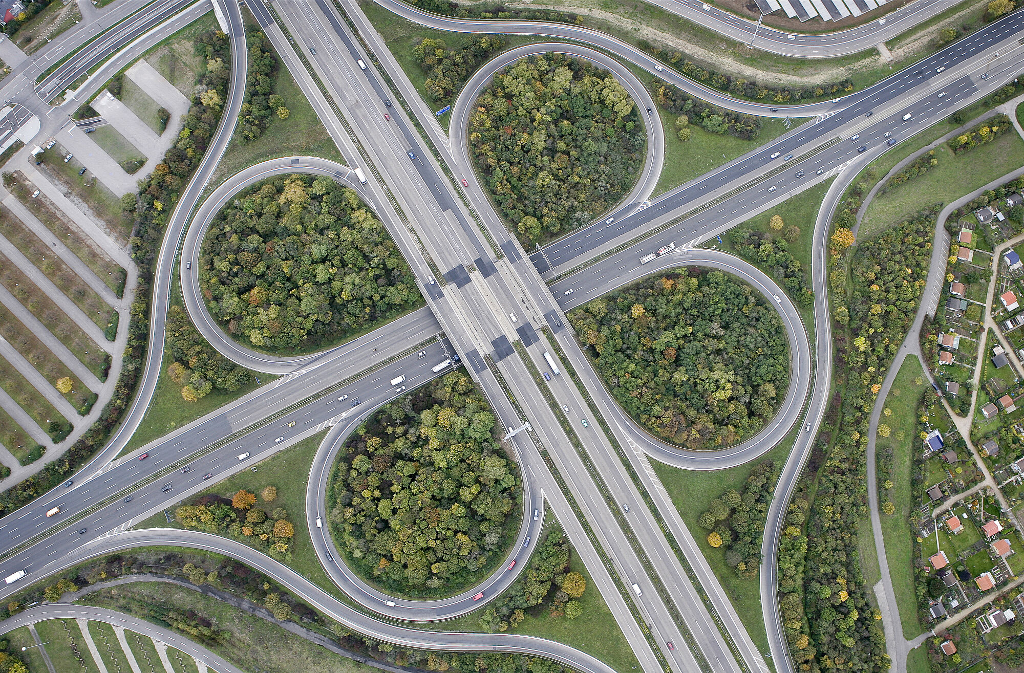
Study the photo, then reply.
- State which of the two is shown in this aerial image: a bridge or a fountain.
bridge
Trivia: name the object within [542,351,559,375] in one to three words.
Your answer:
vehicle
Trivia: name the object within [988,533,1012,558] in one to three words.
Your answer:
house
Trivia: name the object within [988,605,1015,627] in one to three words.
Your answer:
house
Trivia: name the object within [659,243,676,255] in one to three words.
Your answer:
vehicle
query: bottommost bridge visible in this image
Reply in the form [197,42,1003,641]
[415,229,579,389]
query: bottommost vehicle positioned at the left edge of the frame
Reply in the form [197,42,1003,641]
[4,569,29,584]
